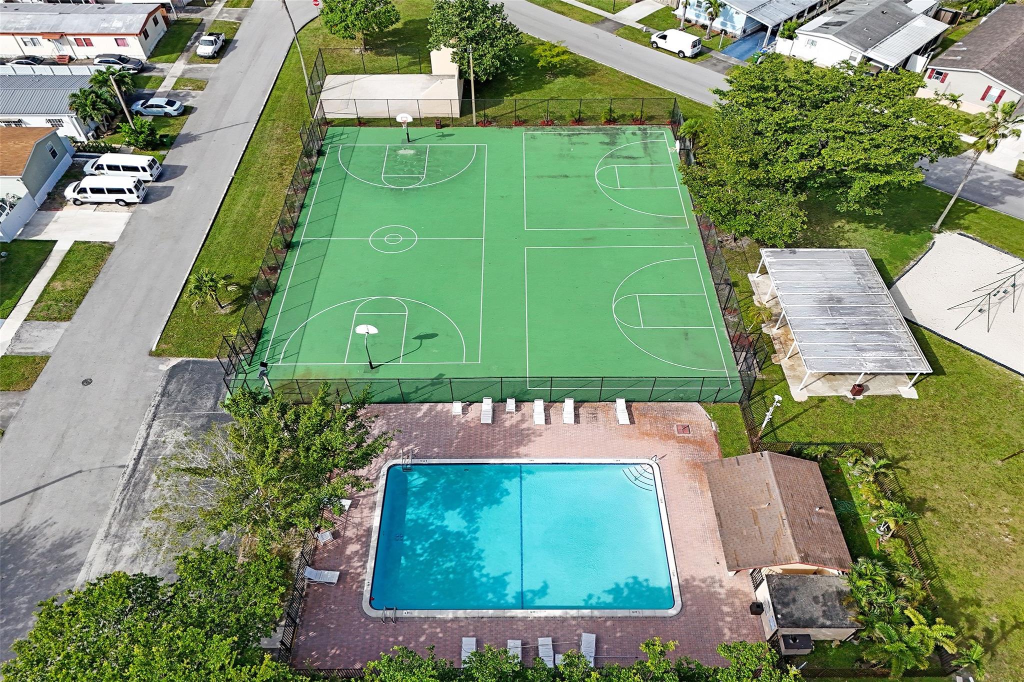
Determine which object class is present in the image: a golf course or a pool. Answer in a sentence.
It is a pool that can be seen here.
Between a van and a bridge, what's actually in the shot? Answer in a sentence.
The one in the frame is a van.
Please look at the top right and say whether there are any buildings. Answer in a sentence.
Yes, a building is visible at the top right.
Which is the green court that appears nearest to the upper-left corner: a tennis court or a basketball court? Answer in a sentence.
In the photo, the green court that appears nearest to the upper-left corner shows up as a basketball court.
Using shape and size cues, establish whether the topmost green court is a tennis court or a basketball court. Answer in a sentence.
Looking closely, the topmost green court is a basketball court.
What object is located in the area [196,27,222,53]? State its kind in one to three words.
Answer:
truck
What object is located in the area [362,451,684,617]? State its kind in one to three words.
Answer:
swimming pool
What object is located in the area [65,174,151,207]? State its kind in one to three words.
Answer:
van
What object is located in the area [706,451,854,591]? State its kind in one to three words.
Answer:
building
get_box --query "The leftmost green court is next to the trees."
[246,125,506,403]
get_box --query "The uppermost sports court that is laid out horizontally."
[314,39,465,117]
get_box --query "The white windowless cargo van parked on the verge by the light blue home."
[638,28,697,57]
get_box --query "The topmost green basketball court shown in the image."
[505,125,699,237]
